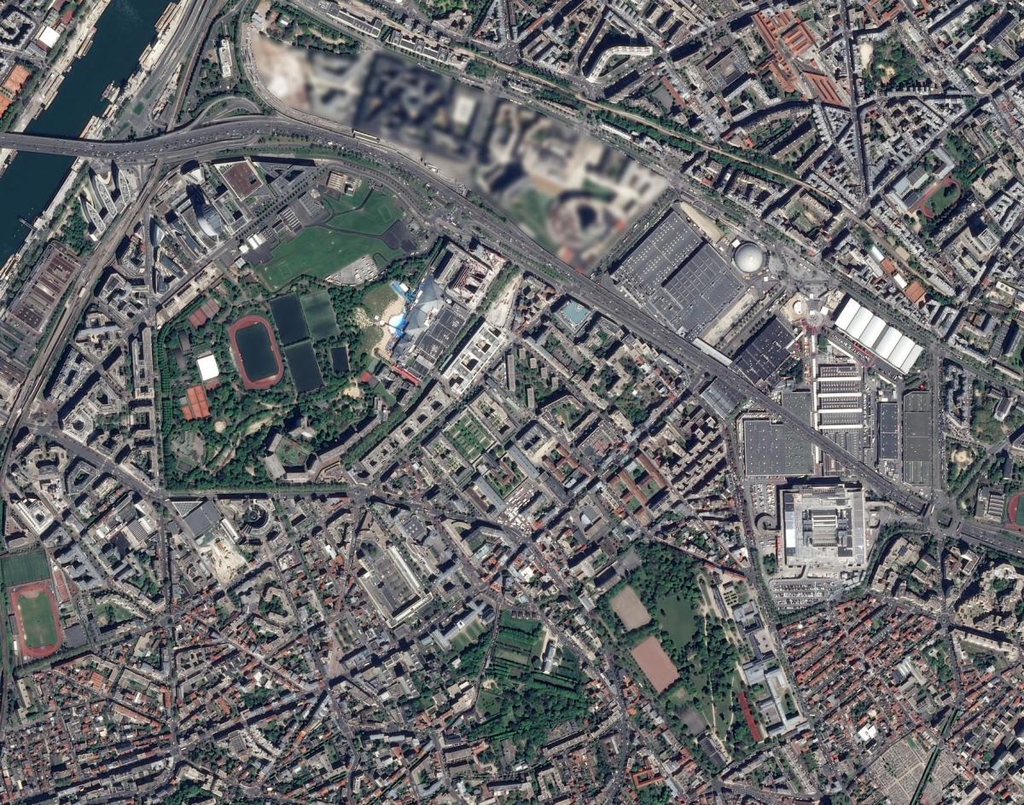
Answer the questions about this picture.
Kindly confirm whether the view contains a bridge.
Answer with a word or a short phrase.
Yes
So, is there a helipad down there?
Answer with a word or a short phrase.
Yes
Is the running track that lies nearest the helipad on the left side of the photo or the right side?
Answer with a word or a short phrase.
left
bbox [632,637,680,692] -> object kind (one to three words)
sports field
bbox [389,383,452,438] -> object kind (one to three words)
building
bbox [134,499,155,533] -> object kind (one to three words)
building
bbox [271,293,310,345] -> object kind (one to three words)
soccer field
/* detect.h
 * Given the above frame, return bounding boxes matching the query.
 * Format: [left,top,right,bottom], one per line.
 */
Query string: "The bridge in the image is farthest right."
[706,358,925,513]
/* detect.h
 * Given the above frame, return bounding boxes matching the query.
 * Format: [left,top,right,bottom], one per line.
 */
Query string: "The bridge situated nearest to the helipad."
[0,130,139,157]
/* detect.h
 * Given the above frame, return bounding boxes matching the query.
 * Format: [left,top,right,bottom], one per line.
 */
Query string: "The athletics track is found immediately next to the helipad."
[228,315,283,389]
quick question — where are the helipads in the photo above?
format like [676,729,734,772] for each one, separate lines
[244,176,412,293]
